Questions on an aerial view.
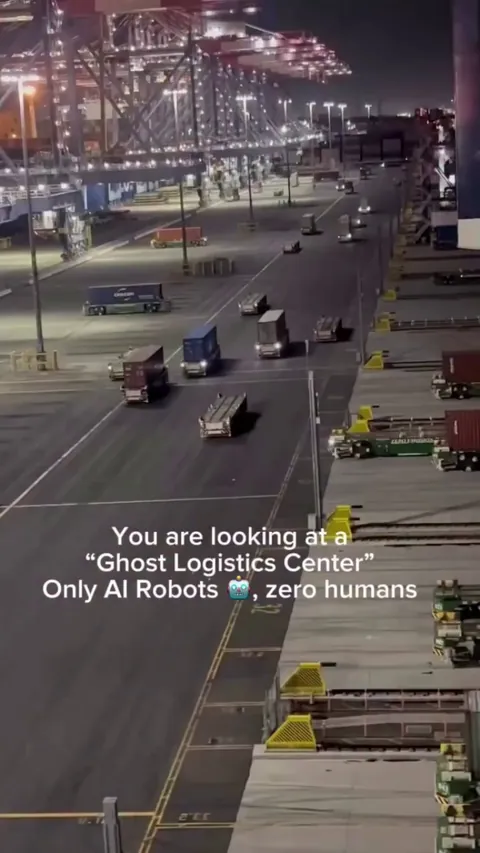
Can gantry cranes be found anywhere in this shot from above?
Yes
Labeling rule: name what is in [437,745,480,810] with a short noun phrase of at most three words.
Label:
vehicle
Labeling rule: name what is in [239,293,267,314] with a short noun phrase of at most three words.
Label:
vehicle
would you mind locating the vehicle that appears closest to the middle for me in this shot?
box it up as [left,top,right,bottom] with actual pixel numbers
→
[199,392,245,433]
